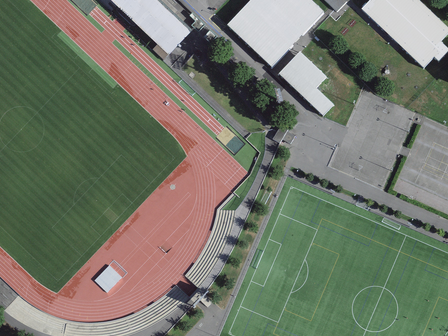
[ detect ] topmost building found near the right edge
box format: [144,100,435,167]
[362,0,448,68]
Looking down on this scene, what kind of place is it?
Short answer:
sports ground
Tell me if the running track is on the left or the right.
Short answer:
left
